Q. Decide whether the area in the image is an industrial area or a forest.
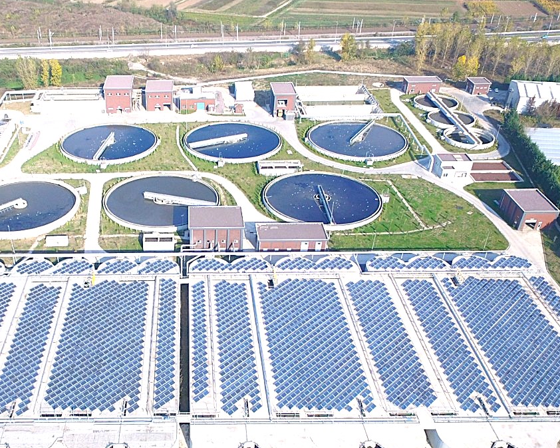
industrial area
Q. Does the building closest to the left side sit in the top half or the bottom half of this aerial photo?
top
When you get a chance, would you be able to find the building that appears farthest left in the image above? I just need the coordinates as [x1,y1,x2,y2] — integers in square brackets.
[104,77,133,113]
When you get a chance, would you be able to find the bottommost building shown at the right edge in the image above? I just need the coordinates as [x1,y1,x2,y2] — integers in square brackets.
[499,188,560,230]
